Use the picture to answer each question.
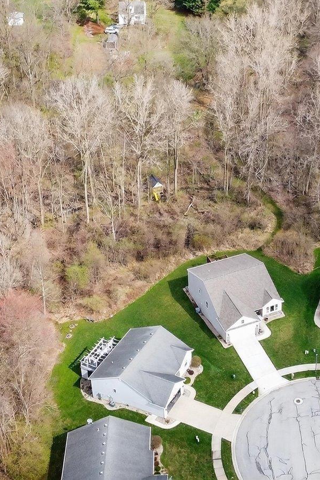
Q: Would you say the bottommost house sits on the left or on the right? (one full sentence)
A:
You can find the bottommost house on the left side of the picture.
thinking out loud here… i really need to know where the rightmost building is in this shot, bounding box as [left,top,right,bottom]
[187,251,285,343]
